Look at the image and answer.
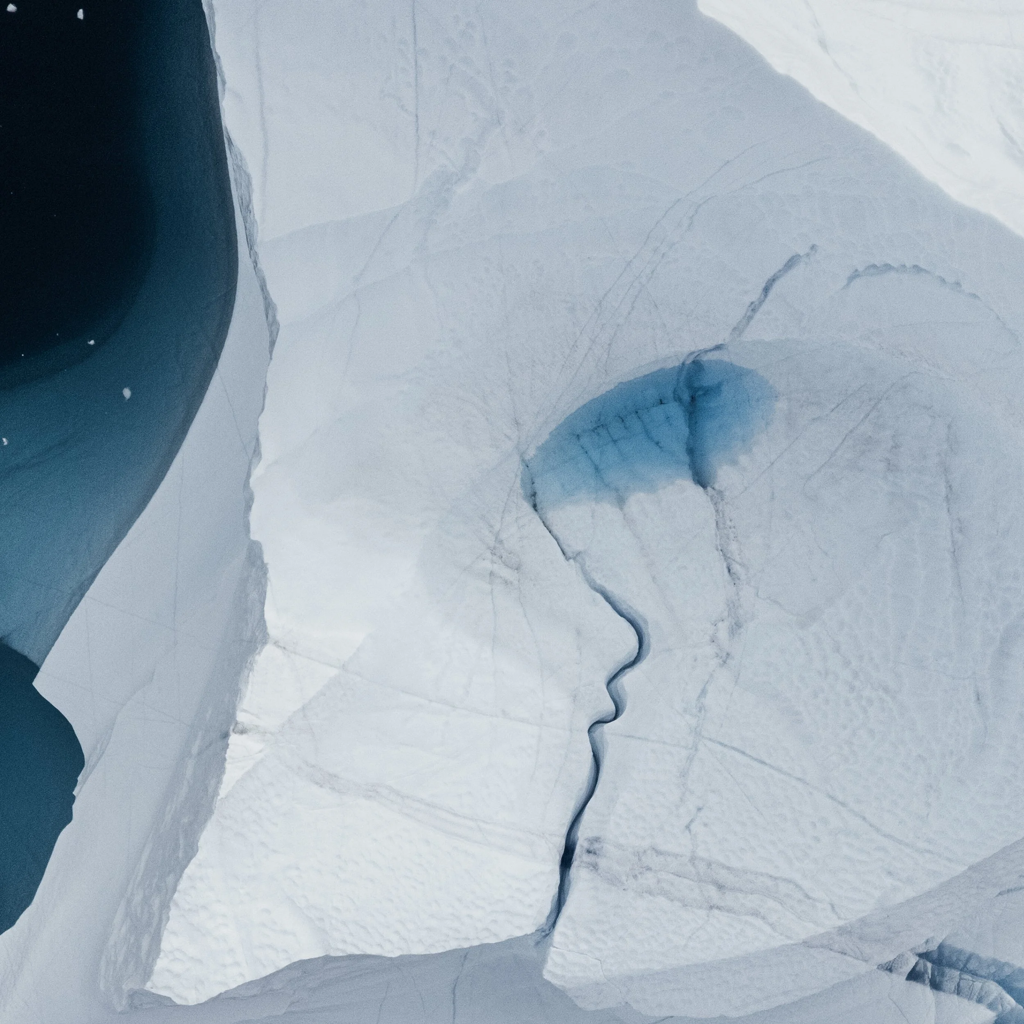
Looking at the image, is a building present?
No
